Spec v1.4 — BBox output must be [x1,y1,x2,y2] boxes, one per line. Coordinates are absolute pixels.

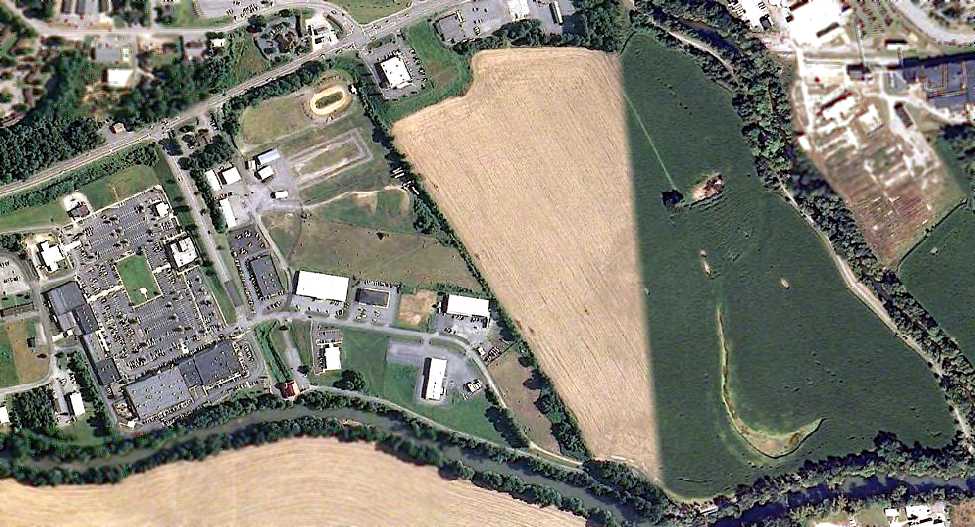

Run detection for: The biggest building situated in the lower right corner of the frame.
[906,504,931,520]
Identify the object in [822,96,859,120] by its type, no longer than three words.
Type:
building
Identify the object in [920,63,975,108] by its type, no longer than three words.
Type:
building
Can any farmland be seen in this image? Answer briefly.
Yes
